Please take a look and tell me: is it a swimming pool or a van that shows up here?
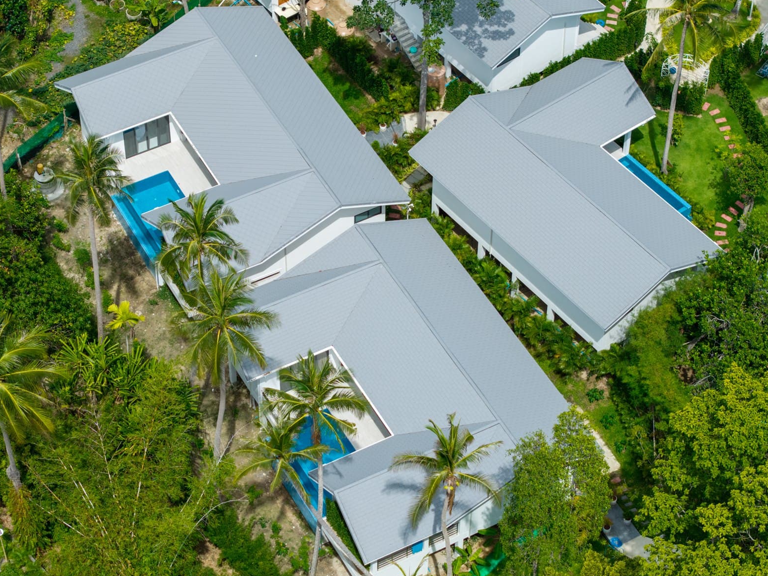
swimming pool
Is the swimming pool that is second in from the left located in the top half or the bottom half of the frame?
bottom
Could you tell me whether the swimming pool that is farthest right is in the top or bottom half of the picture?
top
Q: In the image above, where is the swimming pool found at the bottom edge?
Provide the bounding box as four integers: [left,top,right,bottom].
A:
[268,408,358,553]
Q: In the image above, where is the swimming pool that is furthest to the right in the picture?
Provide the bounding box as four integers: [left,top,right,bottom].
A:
[618,155,694,222]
